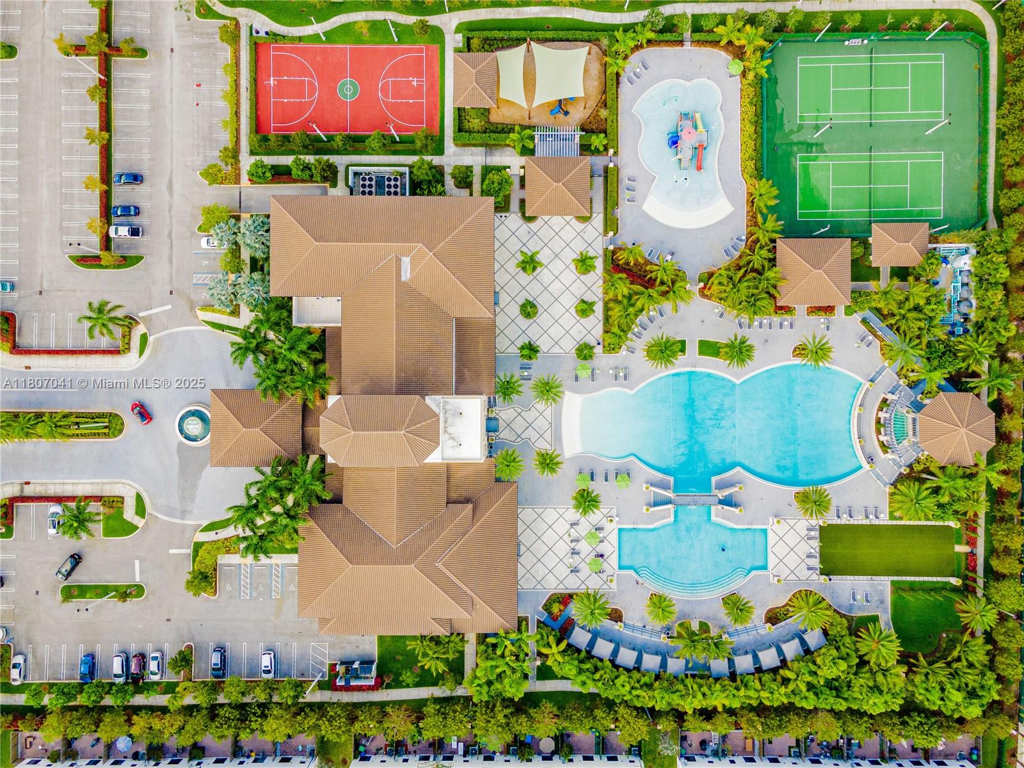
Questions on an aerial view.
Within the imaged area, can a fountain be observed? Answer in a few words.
Yes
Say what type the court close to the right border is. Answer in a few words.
tennis court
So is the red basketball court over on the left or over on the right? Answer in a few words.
left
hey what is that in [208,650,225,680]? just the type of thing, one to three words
car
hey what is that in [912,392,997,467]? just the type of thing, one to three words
building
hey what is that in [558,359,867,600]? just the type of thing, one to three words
swimming pool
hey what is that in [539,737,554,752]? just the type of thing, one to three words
umbrella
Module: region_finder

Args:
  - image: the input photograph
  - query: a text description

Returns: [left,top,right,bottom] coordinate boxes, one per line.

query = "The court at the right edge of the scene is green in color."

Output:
[763,36,983,237]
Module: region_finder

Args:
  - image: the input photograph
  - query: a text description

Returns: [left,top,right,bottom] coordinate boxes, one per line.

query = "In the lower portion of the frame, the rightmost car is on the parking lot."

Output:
[258,652,273,680]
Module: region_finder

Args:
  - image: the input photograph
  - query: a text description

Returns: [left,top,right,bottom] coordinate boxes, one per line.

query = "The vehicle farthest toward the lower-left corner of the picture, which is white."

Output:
[7,655,25,687]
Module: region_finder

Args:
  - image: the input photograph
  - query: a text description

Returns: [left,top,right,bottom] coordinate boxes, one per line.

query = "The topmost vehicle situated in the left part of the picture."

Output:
[112,170,141,185]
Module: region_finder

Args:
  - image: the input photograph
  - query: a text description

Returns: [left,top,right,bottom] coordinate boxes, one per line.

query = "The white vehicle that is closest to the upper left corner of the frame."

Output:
[107,223,142,238]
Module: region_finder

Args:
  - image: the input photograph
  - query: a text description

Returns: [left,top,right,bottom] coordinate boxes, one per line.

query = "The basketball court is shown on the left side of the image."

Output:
[255,43,439,135]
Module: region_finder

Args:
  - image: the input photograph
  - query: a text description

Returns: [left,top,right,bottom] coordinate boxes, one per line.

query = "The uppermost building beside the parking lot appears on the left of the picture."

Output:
[269,195,518,638]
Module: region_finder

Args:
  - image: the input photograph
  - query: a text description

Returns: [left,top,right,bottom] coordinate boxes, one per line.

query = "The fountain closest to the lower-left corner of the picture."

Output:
[174,407,211,444]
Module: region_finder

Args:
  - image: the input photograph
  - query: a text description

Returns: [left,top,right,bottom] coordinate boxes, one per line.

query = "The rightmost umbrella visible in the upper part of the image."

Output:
[726,60,743,76]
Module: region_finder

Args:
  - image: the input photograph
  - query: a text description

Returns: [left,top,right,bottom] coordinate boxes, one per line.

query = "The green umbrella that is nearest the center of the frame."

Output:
[575,362,591,379]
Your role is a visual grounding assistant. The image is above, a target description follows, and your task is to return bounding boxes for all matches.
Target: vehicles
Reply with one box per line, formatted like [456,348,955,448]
[208,650,225,680]
[199,235,225,249]
[107,223,142,238]
[44,505,62,536]
[112,170,141,185]
[146,653,162,682]
[129,401,151,427]
[7,655,25,687]
[108,655,126,686]
[0,281,12,293]
[258,652,273,680]
[77,655,93,685]
[54,554,79,582]
[110,202,138,217]
[0,628,7,641]
[126,655,144,685]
